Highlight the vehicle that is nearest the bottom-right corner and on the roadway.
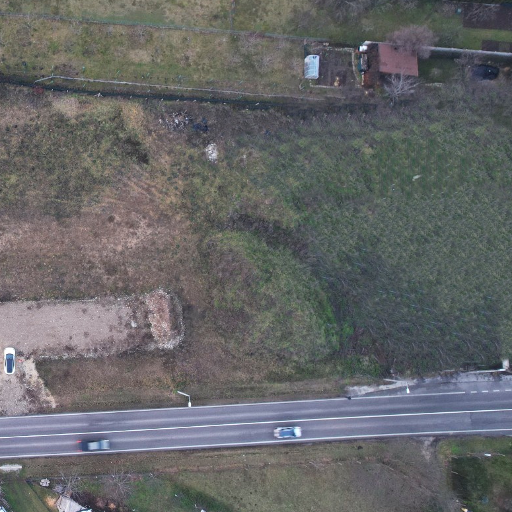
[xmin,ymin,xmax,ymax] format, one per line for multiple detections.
[275,426,305,441]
